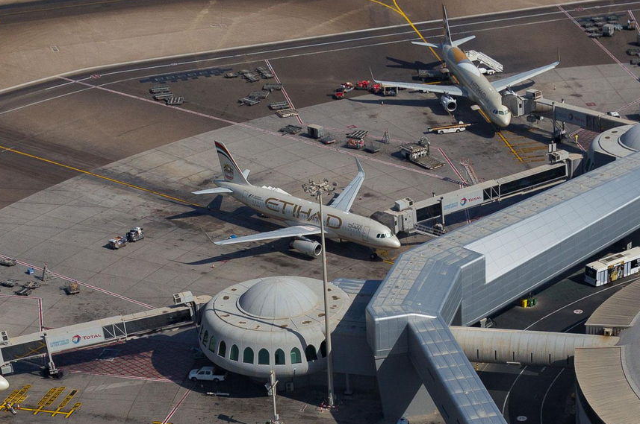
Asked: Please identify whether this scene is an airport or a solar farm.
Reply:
airport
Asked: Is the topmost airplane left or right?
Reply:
right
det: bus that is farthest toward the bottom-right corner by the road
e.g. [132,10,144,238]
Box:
[590,247,640,282]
